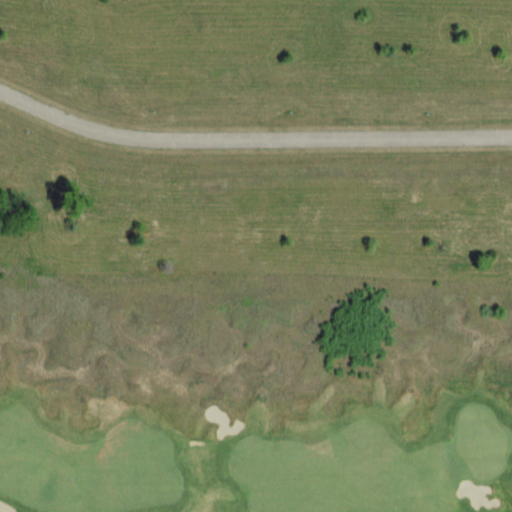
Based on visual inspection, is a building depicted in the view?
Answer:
No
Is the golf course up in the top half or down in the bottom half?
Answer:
bottom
